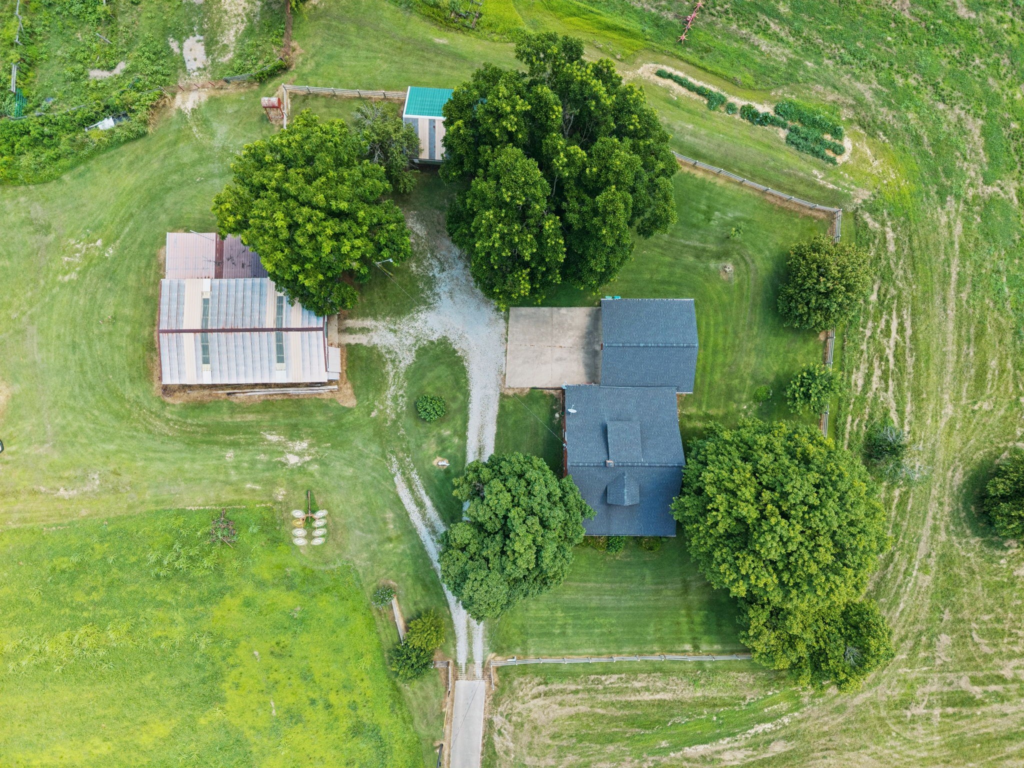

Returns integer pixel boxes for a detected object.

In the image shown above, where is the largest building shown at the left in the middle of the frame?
[154,278,334,385]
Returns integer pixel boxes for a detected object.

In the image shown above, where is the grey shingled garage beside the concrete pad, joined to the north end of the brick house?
[600,299,698,394]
